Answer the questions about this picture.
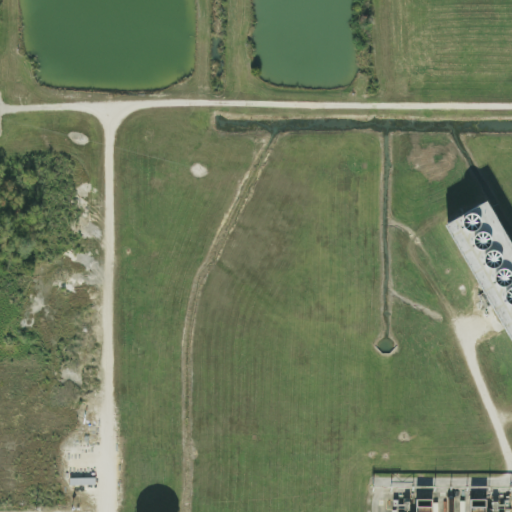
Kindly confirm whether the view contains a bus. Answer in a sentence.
No, there is no bus in the image.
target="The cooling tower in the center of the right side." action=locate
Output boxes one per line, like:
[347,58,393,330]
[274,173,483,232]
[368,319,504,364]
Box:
[444,200,512,342]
